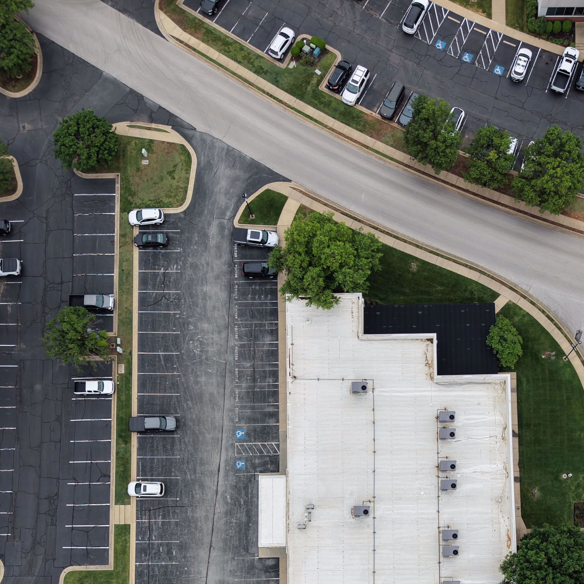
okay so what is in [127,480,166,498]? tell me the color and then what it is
white car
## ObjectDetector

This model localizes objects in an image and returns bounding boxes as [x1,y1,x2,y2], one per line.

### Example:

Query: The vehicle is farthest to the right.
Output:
[550,45,581,96]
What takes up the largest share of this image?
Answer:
paved ground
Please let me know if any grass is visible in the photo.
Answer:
Yes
